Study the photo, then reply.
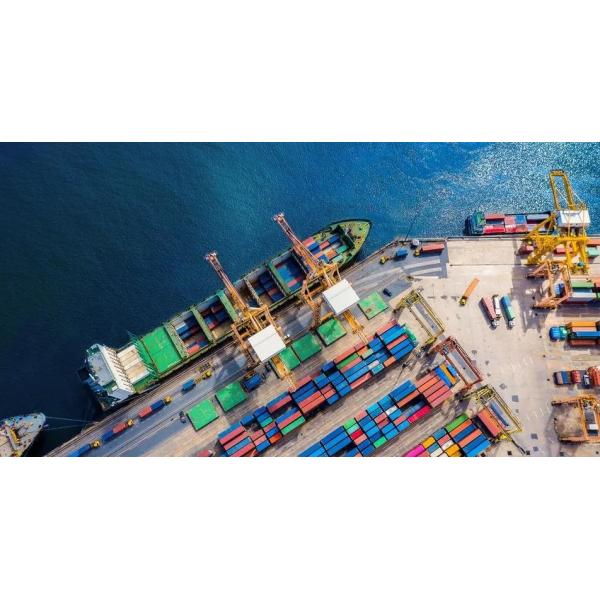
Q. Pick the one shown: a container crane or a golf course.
container crane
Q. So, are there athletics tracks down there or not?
No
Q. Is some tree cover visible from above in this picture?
No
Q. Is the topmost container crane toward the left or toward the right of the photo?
right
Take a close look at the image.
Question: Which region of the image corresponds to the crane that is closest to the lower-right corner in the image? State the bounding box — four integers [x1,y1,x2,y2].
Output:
[553,396,600,441]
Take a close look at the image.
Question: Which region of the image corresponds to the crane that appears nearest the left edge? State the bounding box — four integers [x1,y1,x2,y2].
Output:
[205,253,295,383]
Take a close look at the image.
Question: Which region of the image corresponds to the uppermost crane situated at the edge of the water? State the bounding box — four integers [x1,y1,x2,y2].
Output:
[519,170,596,271]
